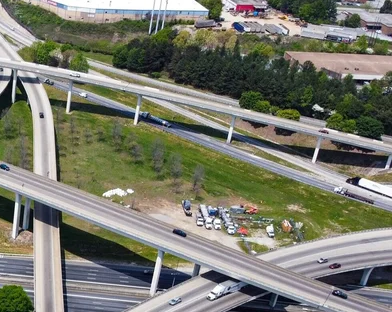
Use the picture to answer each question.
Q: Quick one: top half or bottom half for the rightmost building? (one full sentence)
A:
The rightmost building sits in the top half of the picture.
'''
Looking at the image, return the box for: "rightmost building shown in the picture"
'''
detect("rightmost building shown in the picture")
[351,10,392,34]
